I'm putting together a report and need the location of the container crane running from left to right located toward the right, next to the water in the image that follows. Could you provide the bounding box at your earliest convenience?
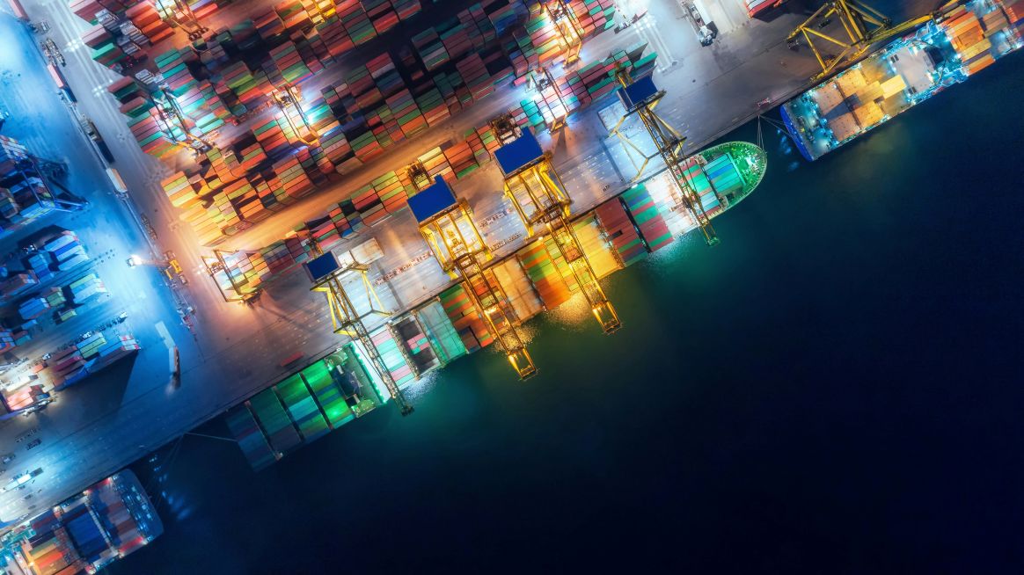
[781,0,949,86]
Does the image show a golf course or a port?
port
